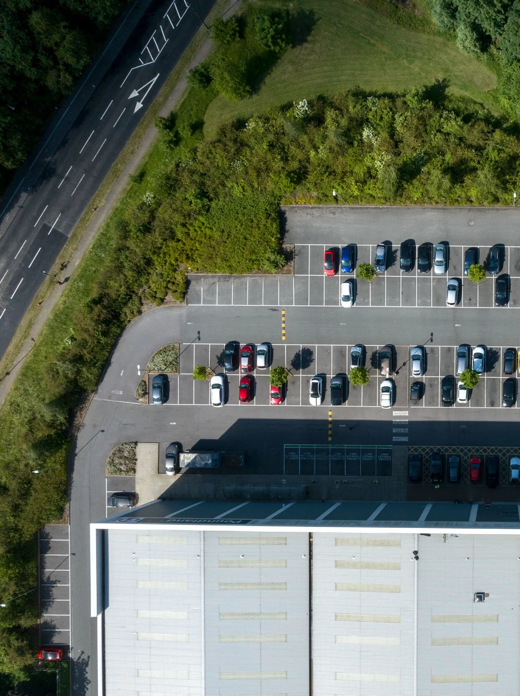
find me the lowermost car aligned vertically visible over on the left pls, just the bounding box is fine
[163,443,178,475]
